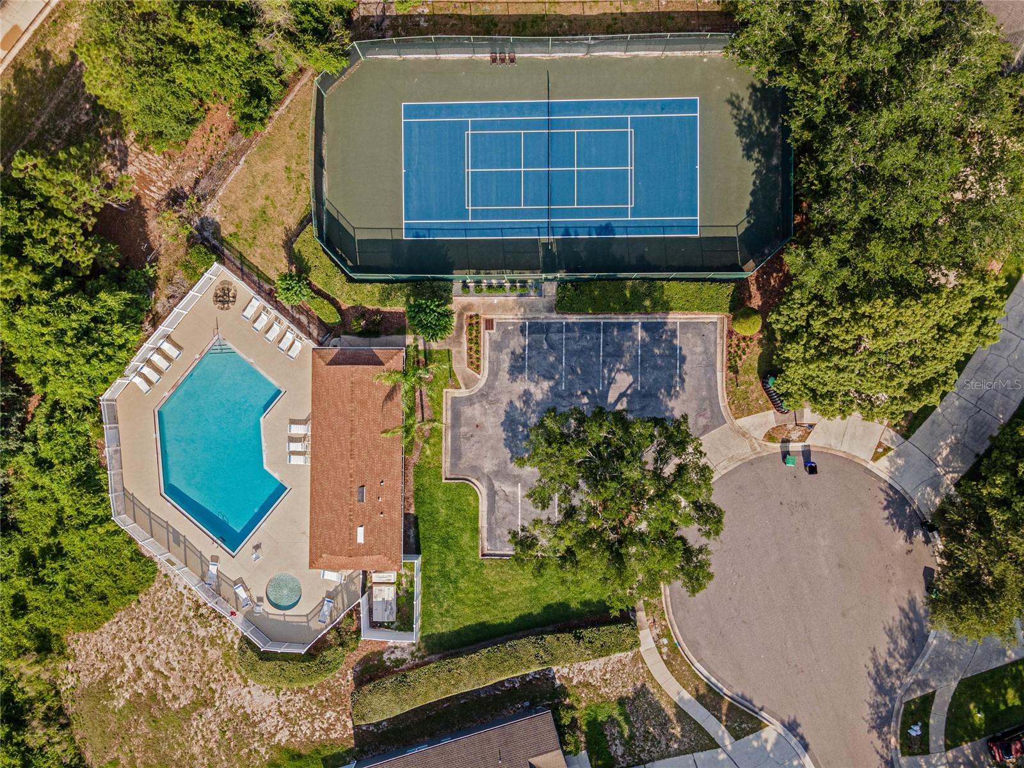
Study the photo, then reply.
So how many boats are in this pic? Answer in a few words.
0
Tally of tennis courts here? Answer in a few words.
1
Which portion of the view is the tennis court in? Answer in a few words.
top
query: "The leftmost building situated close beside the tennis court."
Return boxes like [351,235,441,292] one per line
[311,346,406,571]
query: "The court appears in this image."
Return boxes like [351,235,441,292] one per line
[323,53,777,278]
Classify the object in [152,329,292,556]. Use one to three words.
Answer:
swimming pool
